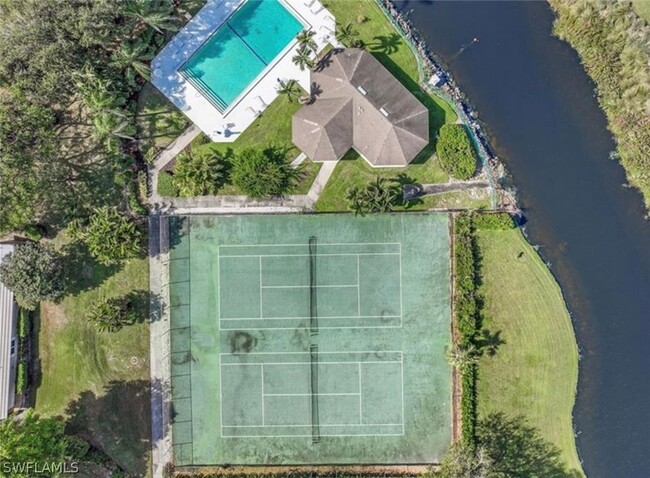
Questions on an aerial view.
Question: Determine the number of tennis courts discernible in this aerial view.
2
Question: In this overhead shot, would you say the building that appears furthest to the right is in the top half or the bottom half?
top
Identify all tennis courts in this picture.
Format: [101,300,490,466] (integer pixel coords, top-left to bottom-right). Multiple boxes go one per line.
[221,352,404,438]
[219,243,402,330]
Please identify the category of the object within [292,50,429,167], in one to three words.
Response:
building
